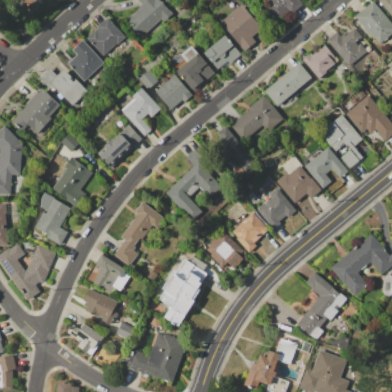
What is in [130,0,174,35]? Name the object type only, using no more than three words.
house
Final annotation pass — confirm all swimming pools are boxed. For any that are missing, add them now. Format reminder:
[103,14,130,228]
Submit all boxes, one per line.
[276,364,298,381]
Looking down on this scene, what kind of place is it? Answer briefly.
residential area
